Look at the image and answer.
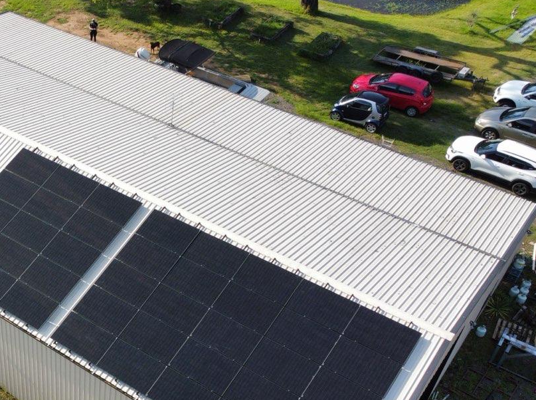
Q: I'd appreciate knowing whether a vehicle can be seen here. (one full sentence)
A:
Yes, there's a vehicle here.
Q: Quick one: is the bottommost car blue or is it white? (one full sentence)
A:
The bottommost car is white.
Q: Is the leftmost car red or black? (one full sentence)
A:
The leftmost car looks black in the image.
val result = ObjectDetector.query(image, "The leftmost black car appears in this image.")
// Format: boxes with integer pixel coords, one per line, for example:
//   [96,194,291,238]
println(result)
[330,89,394,134]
